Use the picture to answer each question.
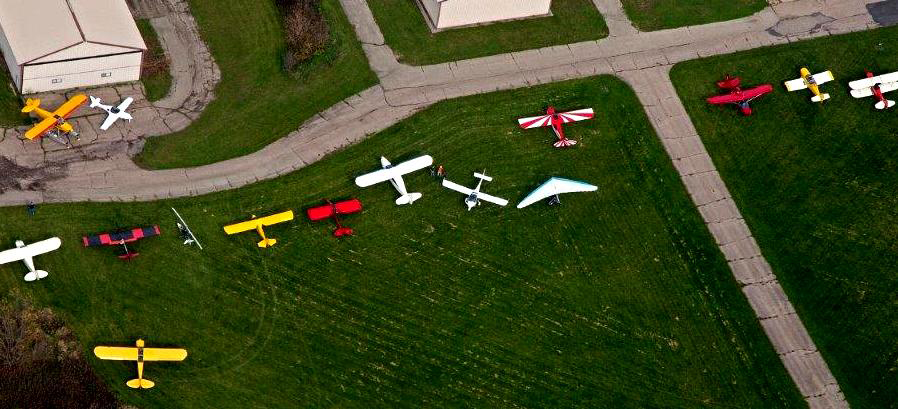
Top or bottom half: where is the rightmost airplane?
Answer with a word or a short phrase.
top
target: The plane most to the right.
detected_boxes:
[848,72,898,108]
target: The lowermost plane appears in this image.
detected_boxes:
[95,338,187,389]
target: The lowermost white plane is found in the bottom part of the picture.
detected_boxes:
[0,239,61,279]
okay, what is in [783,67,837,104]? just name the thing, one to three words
airplane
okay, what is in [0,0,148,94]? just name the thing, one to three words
hangar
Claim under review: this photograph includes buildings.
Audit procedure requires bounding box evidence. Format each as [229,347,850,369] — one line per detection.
[0,0,148,94]
[415,0,556,32]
